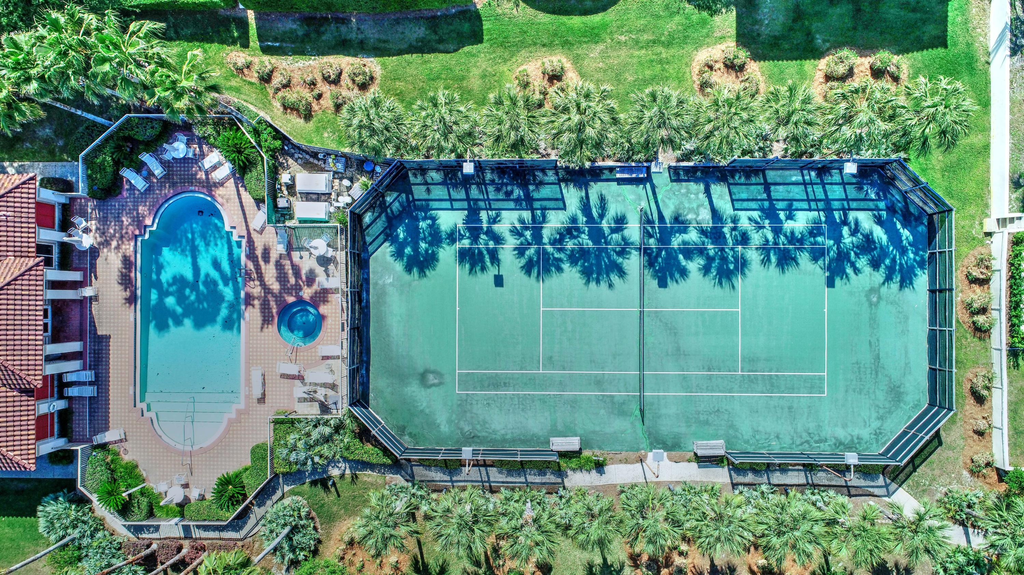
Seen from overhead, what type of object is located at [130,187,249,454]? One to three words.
swimming pool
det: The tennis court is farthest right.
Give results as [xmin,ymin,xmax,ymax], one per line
[360,170,927,452]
